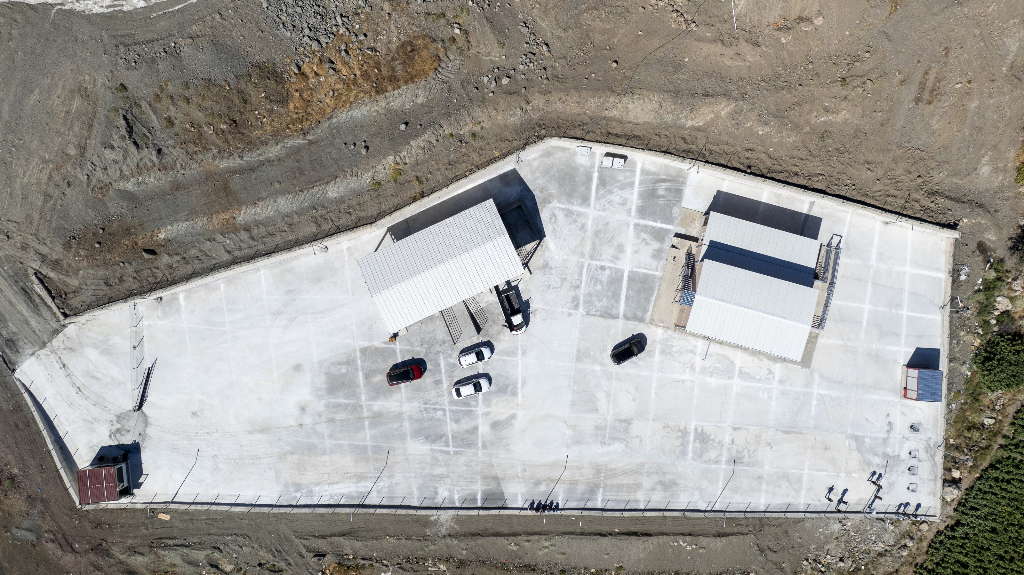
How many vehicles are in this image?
5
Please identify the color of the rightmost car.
black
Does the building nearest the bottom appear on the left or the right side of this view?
left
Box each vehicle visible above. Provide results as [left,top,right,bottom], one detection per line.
[455,346,492,369]
[450,376,490,400]
[386,364,425,387]
[608,338,647,367]
[497,291,527,337]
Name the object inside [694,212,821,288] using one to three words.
building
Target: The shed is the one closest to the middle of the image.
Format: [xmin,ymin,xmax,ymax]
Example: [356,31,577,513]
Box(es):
[358,198,524,334]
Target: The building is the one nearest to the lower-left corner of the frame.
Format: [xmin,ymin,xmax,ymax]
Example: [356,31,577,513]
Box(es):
[76,457,137,505]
